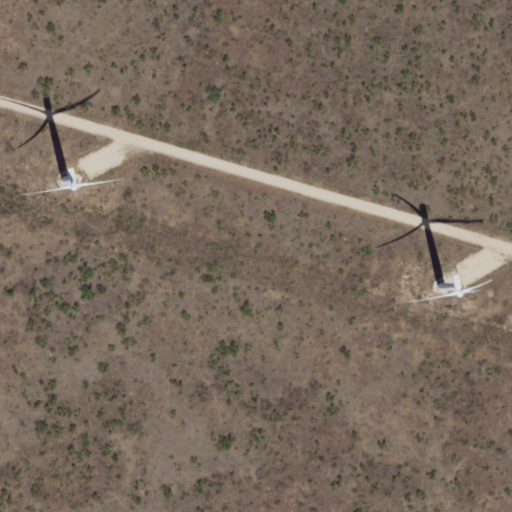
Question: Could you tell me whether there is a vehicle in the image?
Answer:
No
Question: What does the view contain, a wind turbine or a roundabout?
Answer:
wind turbine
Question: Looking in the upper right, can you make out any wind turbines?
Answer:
No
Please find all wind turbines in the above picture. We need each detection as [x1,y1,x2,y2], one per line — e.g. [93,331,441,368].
[406,276,506,306]
[28,168,126,192]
